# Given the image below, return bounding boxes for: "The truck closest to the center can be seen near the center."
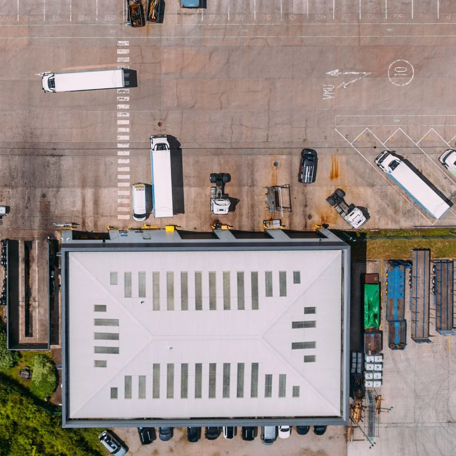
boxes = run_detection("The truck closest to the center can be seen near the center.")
[207,171,231,215]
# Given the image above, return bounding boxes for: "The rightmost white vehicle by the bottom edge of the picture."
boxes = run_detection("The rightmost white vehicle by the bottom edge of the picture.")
[277,427,293,439]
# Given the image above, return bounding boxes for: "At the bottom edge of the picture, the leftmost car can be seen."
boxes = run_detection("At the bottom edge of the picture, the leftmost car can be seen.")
[99,428,127,456]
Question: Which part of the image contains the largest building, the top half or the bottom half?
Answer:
bottom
